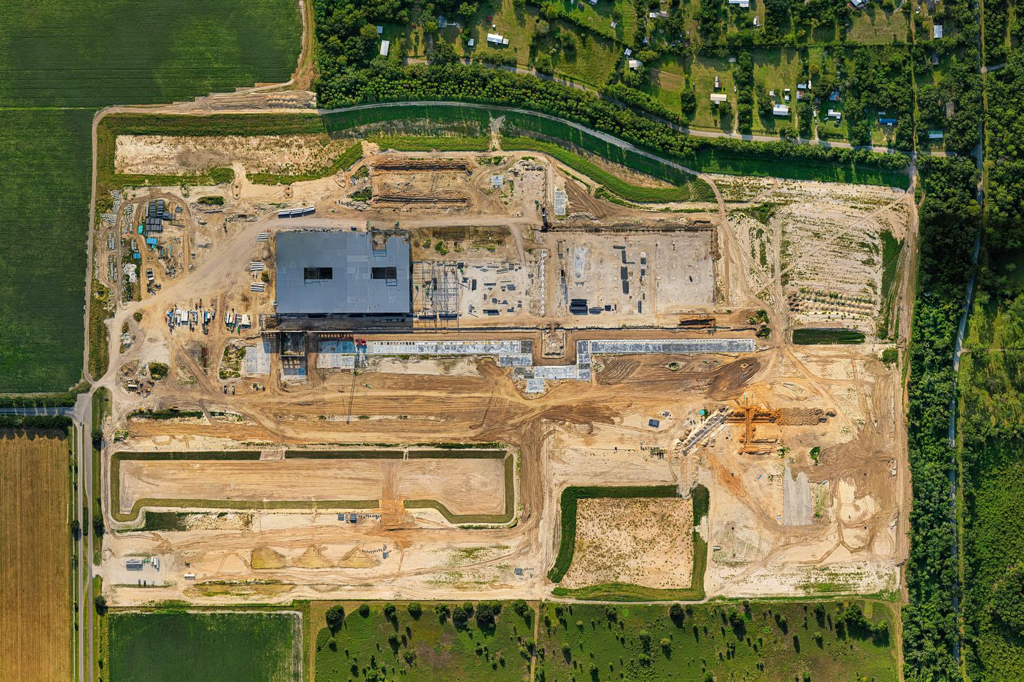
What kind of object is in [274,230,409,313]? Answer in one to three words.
building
